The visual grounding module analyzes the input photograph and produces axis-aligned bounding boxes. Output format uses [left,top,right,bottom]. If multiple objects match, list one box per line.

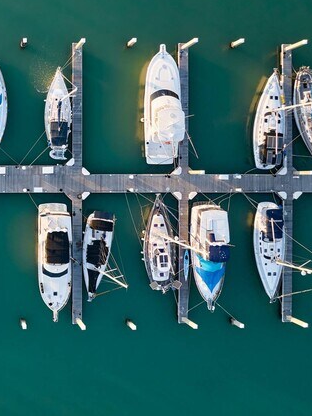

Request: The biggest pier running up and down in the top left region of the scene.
[71,43,83,175]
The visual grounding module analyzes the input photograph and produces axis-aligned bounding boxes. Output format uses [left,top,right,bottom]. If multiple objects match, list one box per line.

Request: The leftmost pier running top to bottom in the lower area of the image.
[61,194,83,325]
